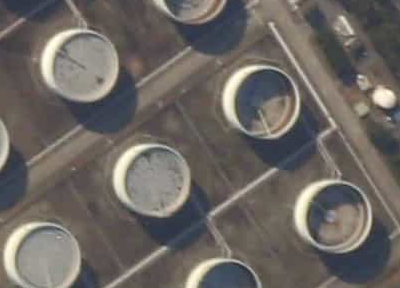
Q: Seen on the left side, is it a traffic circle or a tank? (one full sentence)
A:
Visible on the left side is a tank.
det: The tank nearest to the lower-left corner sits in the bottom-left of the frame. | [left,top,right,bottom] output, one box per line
[0,212,80,288]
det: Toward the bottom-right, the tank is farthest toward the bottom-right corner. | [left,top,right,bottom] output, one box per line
[288,172,371,258]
